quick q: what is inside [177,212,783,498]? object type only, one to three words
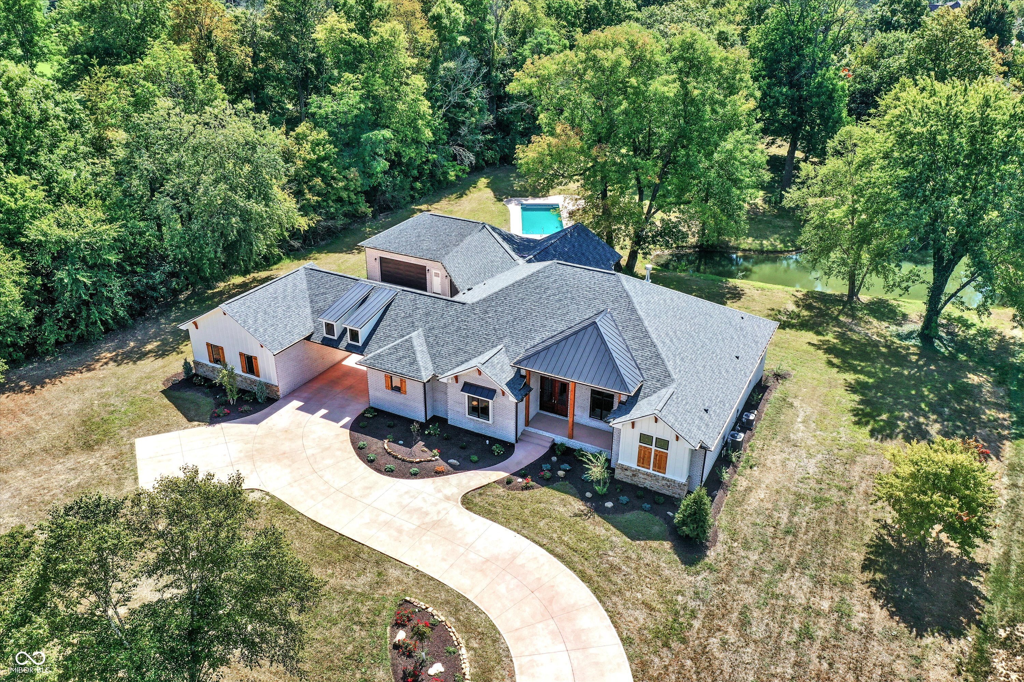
house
